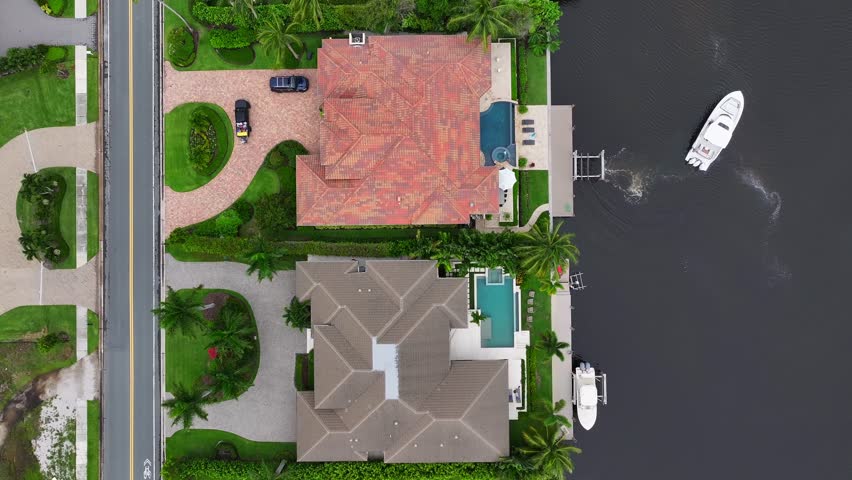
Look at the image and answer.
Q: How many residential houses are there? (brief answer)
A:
two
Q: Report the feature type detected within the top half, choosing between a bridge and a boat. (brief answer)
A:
boat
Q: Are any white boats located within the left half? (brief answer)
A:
No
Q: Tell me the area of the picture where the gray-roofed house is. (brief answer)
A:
bottom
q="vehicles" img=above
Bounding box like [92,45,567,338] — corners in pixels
[270,73,310,92]
[233,100,252,137]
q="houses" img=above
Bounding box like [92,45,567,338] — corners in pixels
[296,259,508,462]
[296,33,499,226]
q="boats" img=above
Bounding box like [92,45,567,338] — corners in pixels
[682,91,743,175]
[577,362,597,430]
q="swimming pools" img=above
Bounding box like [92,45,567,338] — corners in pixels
[474,267,521,348]
[481,101,518,169]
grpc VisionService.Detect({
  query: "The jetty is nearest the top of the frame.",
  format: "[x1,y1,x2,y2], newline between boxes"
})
[551,104,576,217]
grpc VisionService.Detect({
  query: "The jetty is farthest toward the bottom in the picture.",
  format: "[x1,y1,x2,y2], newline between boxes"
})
[551,259,575,443]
